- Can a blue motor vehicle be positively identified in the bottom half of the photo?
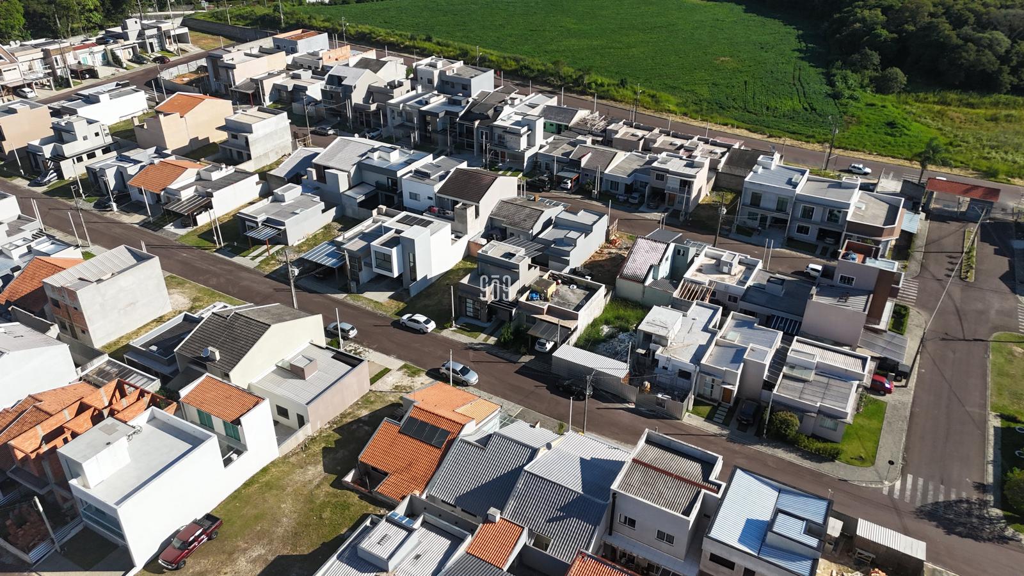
No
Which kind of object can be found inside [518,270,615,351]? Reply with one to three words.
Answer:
house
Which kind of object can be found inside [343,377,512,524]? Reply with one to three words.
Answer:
house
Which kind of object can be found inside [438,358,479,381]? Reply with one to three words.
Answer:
car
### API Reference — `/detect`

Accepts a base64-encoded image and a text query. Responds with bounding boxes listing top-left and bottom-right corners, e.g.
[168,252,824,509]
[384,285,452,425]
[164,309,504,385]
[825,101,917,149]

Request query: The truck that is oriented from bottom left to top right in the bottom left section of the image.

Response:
[156,510,222,566]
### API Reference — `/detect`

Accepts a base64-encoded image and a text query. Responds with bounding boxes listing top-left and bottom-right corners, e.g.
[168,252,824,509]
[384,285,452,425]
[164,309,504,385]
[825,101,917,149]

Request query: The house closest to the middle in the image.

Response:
[460,241,548,318]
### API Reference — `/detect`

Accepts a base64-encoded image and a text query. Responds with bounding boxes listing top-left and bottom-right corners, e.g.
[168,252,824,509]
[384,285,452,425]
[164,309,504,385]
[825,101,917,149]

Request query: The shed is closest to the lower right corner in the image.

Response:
[851,519,928,576]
